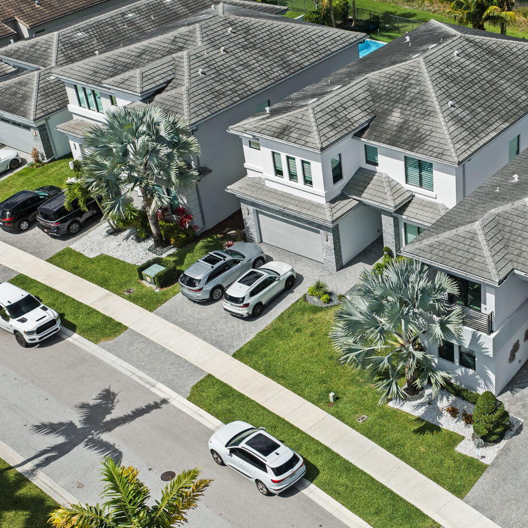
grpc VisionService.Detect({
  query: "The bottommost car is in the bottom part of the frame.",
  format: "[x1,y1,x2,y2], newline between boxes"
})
[212,427,308,499]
